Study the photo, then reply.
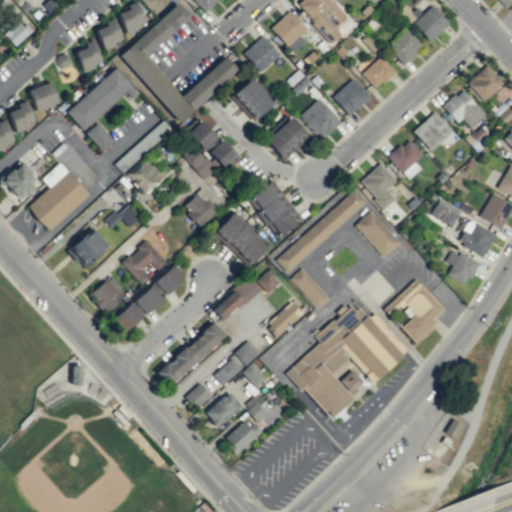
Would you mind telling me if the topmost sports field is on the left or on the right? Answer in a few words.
left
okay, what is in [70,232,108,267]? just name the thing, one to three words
house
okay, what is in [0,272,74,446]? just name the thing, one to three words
sports field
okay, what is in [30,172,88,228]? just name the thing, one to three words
building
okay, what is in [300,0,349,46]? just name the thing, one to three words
building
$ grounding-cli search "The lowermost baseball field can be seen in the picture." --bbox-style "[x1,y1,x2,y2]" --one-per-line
[0,392,213,512]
